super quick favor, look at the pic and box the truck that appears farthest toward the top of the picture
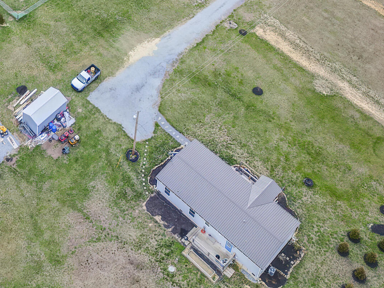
[69,62,102,93]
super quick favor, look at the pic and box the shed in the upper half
[22,88,68,134]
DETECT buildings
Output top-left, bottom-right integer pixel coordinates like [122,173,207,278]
[152,139,301,281]
[22,88,68,134]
